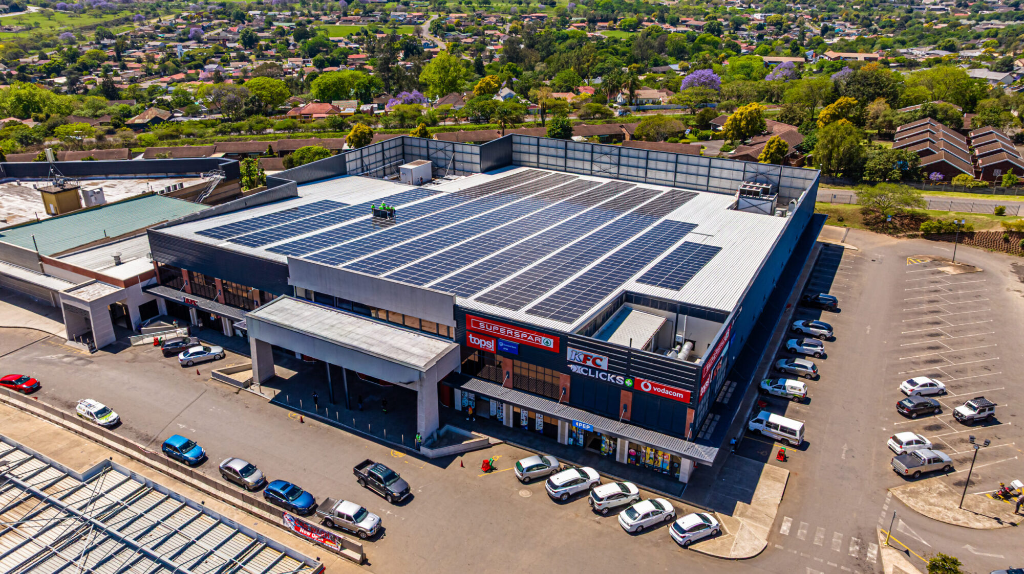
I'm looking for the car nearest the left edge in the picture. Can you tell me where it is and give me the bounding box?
[5,368,42,392]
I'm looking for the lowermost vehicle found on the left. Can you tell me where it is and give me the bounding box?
[316,498,385,540]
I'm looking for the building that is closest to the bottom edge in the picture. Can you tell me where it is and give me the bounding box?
[0,436,321,574]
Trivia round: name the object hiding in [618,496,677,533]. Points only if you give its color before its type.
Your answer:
white car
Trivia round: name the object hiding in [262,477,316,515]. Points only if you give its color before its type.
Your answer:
blue car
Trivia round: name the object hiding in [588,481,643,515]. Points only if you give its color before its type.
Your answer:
white car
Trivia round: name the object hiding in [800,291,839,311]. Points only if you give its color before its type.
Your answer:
black car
